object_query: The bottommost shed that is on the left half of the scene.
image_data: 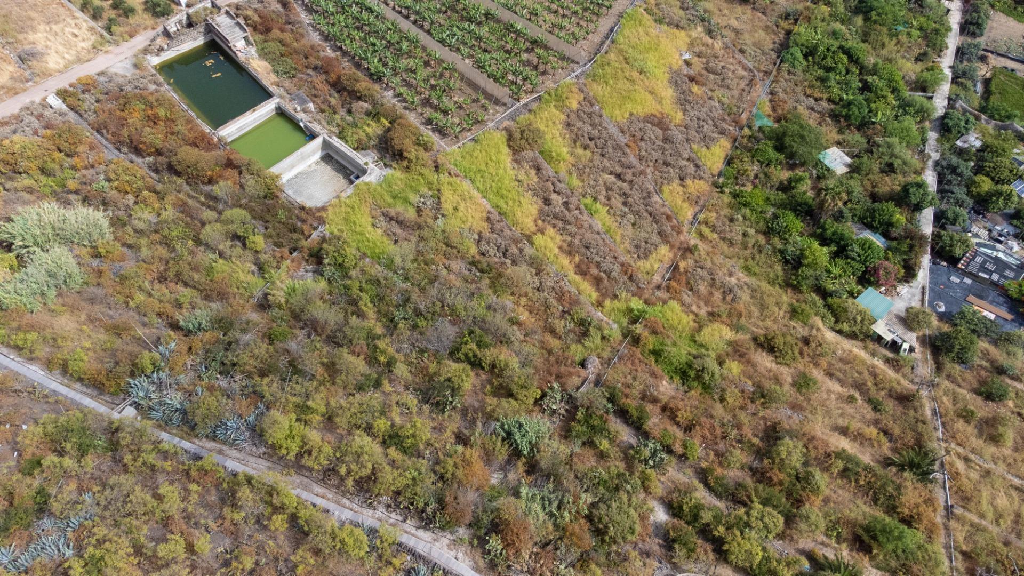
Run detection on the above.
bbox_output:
[288,91,318,121]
